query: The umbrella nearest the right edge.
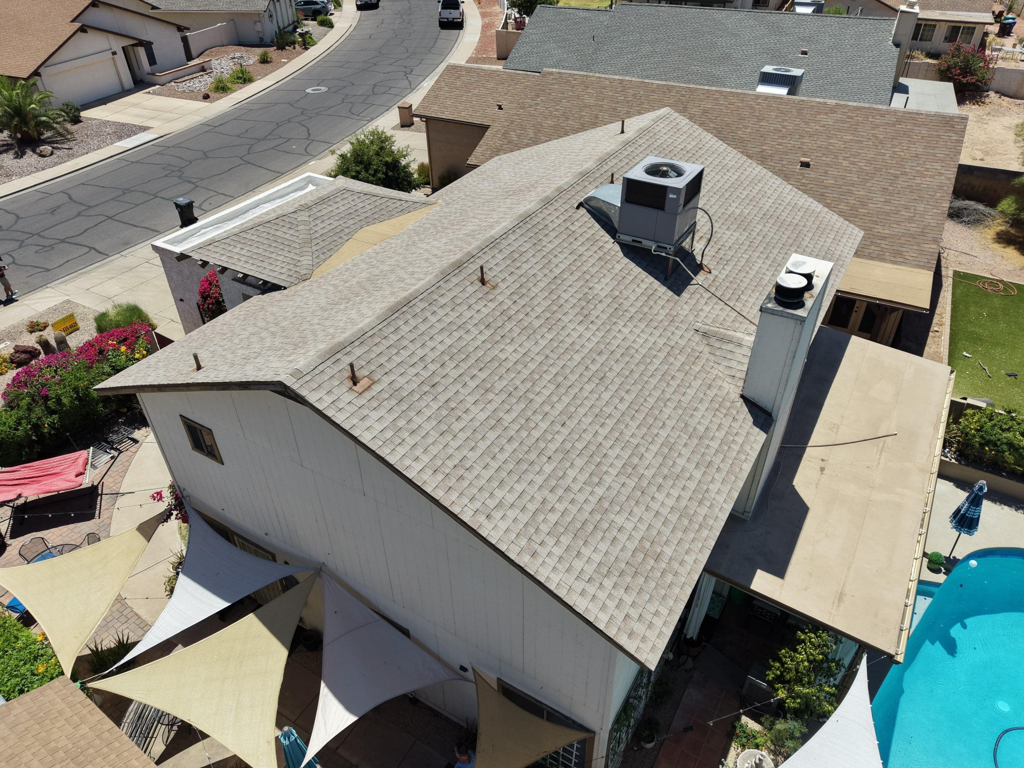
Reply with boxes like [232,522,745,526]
[948,485,994,565]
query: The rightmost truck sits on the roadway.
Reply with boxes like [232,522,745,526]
[438,0,464,28]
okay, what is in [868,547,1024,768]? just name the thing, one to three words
swimming pool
